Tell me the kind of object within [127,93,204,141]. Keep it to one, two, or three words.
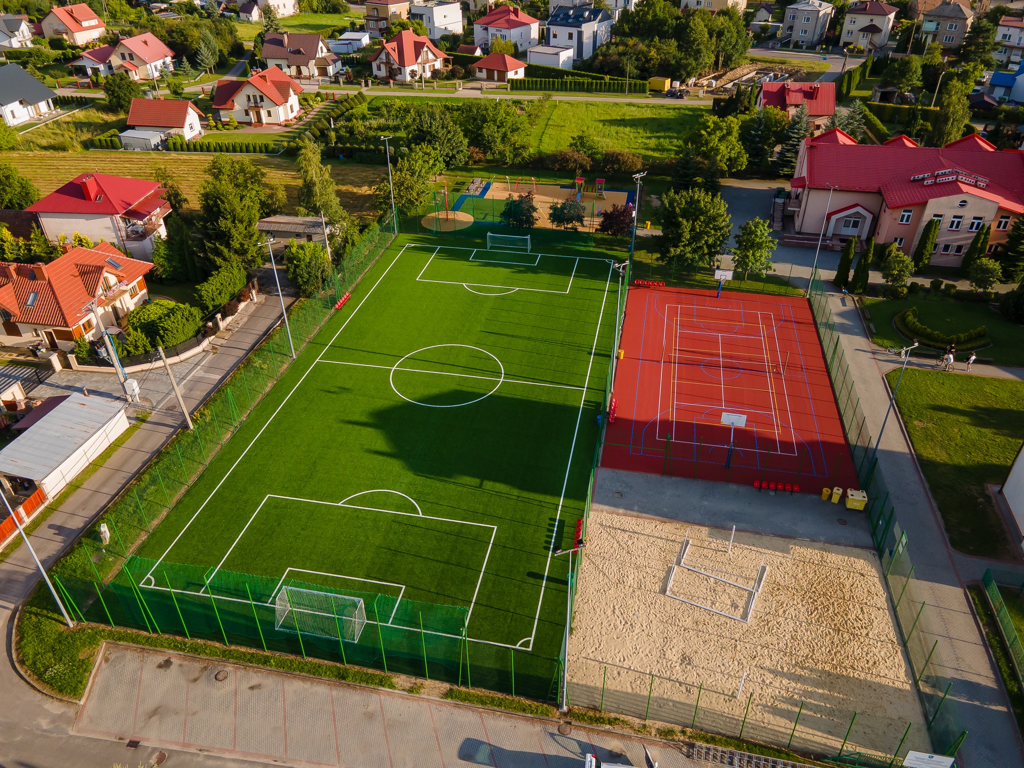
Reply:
shed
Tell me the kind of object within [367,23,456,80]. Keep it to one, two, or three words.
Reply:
house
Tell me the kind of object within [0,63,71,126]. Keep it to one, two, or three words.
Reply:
house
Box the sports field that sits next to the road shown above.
[76,233,629,702]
